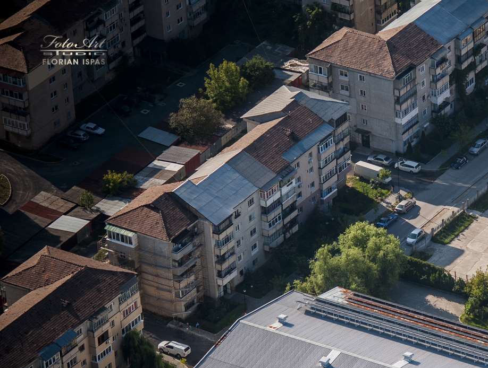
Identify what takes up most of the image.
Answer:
buildings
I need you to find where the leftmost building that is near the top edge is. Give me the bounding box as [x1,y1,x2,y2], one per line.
[0,0,242,143]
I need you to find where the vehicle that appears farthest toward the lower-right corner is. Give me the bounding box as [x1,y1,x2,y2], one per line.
[405,225,427,244]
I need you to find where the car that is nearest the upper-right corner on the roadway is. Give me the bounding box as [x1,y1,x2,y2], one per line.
[468,137,488,153]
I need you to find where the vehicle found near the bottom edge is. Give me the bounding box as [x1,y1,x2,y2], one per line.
[158,340,191,357]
